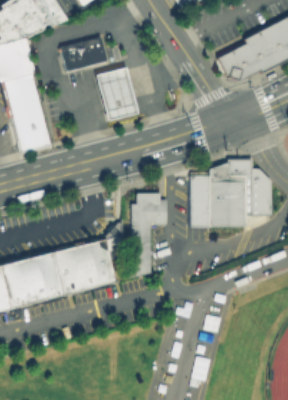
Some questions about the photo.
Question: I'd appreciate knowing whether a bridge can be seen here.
No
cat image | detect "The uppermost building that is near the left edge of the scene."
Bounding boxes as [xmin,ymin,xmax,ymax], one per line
[0,0,68,44]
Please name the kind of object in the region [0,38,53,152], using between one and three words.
building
